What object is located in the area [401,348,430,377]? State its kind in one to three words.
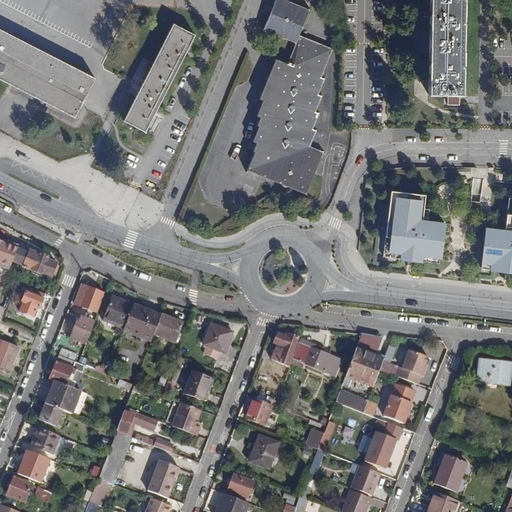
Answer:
house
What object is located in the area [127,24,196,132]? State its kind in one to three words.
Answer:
building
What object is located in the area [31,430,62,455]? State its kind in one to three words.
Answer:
house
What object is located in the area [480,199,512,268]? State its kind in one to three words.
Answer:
building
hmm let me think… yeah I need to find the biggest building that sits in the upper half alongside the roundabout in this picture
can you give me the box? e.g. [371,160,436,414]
[246,36,332,194]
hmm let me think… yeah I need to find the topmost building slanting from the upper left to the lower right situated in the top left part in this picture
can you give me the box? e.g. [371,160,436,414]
[0,29,96,118]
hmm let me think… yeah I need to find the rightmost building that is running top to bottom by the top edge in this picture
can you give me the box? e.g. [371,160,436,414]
[430,0,467,100]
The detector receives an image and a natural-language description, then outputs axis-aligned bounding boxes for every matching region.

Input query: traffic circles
[239,228,327,316]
